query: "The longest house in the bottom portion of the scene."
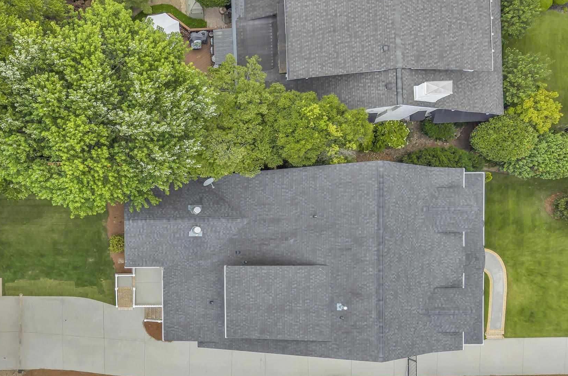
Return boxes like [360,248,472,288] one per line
[124,161,488,362]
